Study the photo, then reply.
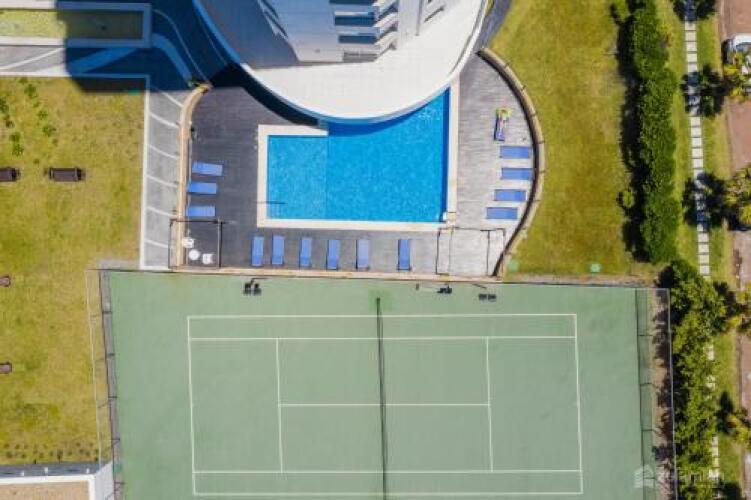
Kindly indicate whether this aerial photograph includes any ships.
No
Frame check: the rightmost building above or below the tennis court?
above it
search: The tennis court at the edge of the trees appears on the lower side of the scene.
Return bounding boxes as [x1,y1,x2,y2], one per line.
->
[111,271,655,500]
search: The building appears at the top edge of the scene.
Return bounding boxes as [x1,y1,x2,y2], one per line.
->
[199,0,490,120]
